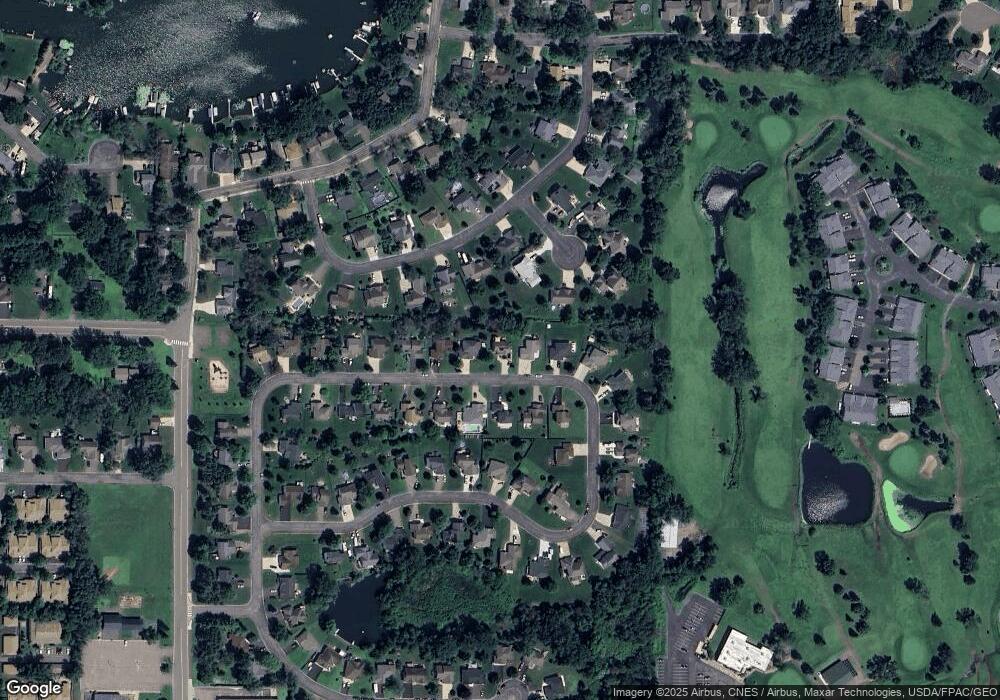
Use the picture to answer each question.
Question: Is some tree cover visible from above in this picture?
Yes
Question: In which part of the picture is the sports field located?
bottom left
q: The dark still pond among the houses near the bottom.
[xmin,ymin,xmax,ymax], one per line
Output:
[329,575,383,646]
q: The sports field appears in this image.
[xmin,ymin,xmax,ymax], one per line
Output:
[80,513,173,596]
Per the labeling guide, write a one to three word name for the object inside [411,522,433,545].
house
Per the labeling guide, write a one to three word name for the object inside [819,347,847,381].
building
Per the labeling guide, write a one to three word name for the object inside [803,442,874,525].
pond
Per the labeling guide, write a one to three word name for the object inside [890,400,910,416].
swimming pool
